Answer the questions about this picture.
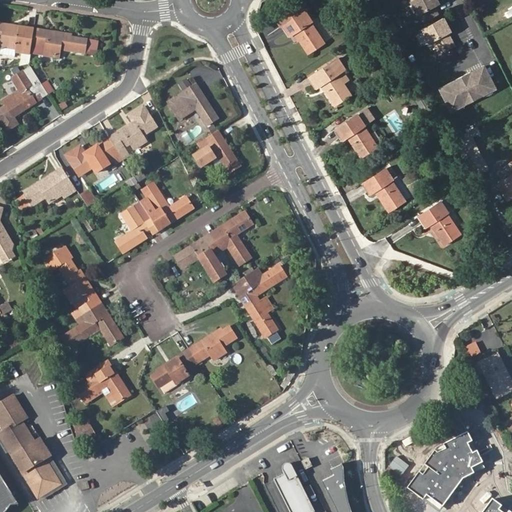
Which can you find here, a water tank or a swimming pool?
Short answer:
swimming pool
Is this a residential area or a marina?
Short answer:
residential area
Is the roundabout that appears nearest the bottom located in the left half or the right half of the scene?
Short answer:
right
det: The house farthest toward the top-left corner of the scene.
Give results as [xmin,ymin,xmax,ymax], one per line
[0,22,34,54]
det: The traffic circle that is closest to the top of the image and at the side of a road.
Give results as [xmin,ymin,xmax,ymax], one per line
[163,0,254,50]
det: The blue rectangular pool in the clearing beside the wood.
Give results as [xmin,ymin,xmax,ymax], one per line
[386,111,404,136]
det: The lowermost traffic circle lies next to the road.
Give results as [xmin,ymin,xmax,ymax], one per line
[306,295,444,434]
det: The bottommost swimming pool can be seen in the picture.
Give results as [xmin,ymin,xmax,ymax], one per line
[176,392,199,413]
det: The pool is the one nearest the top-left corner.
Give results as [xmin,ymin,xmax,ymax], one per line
[97,173,120,192]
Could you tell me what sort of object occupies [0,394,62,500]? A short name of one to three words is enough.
building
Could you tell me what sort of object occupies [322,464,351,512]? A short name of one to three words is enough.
building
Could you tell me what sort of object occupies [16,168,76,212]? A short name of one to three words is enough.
house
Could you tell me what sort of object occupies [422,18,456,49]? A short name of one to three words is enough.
house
